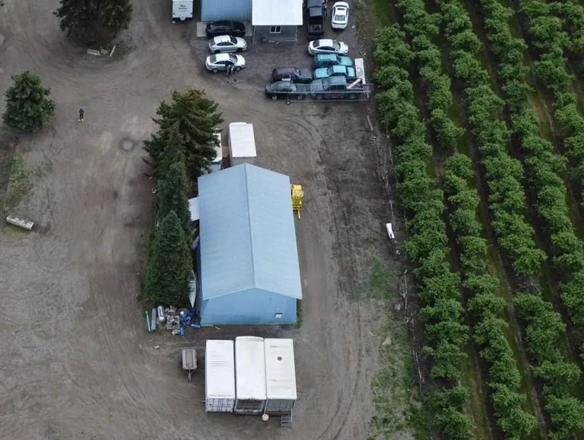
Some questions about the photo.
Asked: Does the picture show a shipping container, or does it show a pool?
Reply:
shipping container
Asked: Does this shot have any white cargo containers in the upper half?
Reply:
No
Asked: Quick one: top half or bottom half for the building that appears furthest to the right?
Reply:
top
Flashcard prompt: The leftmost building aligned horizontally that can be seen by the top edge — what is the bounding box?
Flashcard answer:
[201,0,252,21]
